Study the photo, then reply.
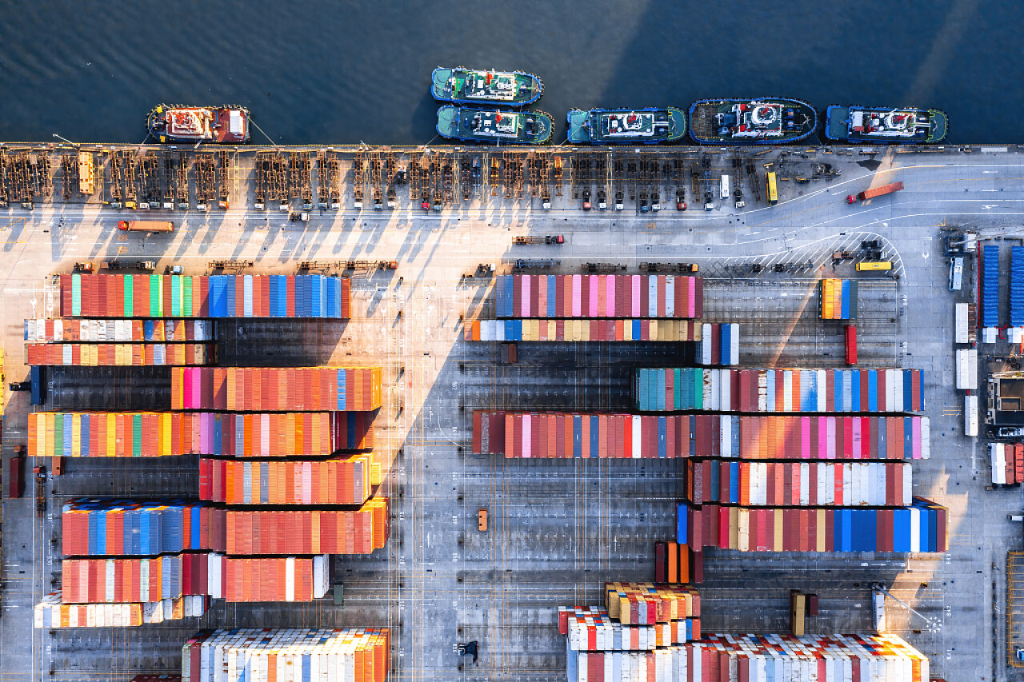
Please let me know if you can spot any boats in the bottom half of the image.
No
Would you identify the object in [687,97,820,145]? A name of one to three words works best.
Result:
boat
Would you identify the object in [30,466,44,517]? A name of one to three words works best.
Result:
vehicle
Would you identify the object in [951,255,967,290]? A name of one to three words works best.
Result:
vehicle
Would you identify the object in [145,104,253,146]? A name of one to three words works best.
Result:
boat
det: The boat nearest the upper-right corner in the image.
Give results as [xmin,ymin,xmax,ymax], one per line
[823,104,950,144]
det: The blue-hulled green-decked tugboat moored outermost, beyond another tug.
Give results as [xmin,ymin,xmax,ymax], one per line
[431,65,546,109]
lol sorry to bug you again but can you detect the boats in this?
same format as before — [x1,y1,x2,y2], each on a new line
[437,103,557,147]
[687,97,820,145]
[566,106,687,145]
[431,65,546,109]
[145,104,253,146]
[823,104,950,144]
